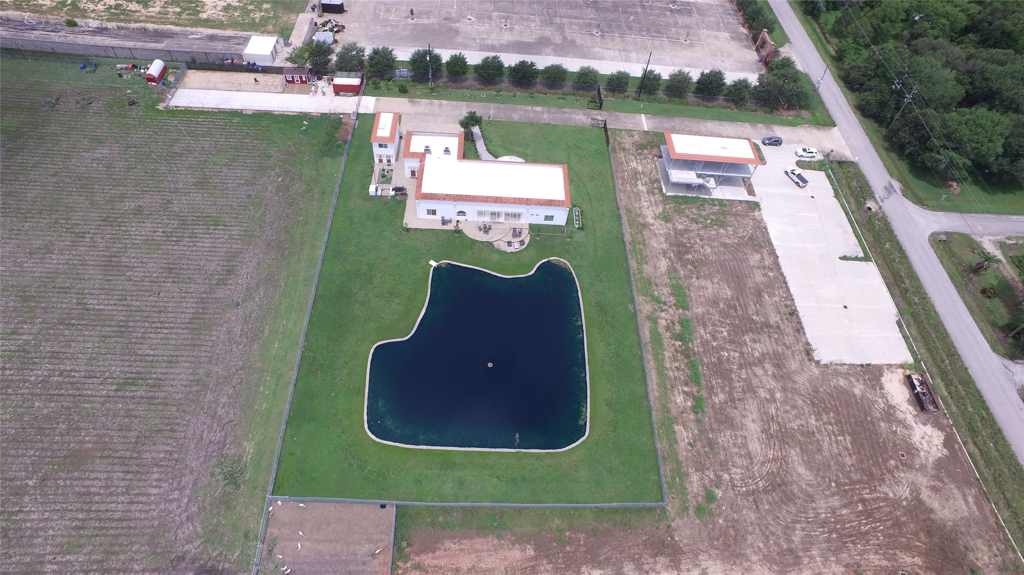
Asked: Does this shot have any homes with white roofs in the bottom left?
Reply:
No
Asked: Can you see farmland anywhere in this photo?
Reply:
Yes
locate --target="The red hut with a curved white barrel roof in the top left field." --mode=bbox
[141,59,168,82]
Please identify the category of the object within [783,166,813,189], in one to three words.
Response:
truck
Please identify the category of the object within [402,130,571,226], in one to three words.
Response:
house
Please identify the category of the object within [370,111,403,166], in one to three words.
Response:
house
